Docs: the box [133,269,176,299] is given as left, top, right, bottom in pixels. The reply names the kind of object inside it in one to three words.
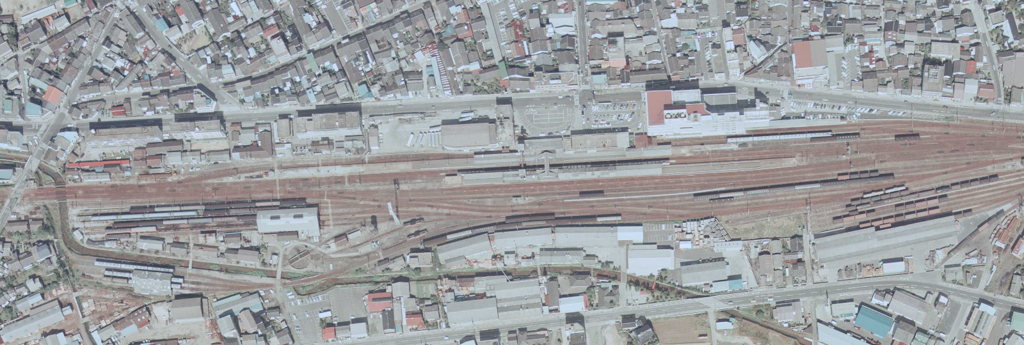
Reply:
shed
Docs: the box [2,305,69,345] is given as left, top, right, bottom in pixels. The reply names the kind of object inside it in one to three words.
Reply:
building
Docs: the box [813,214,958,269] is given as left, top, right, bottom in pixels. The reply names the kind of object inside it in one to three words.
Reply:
building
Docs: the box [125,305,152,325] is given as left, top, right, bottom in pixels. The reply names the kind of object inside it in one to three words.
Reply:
house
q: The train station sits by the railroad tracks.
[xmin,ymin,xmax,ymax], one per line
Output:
[280,130,797,186]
